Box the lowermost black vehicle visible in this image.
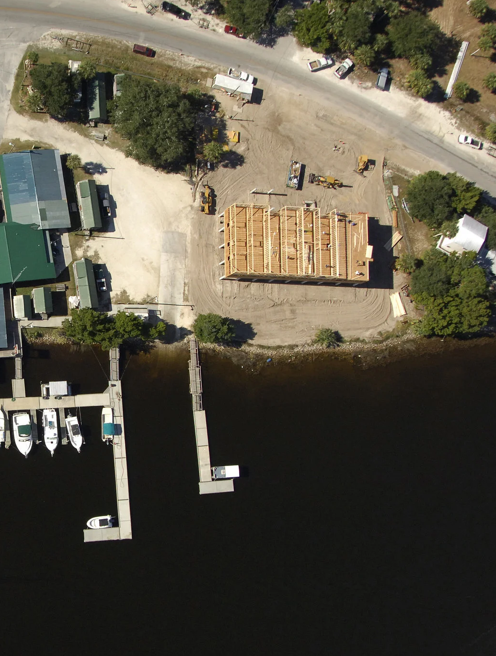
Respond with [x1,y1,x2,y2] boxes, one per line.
[96,267,109,294]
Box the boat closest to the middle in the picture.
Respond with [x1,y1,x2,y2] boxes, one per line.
[209,465,242,478]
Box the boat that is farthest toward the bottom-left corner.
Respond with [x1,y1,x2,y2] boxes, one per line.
[87,516,116,529]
